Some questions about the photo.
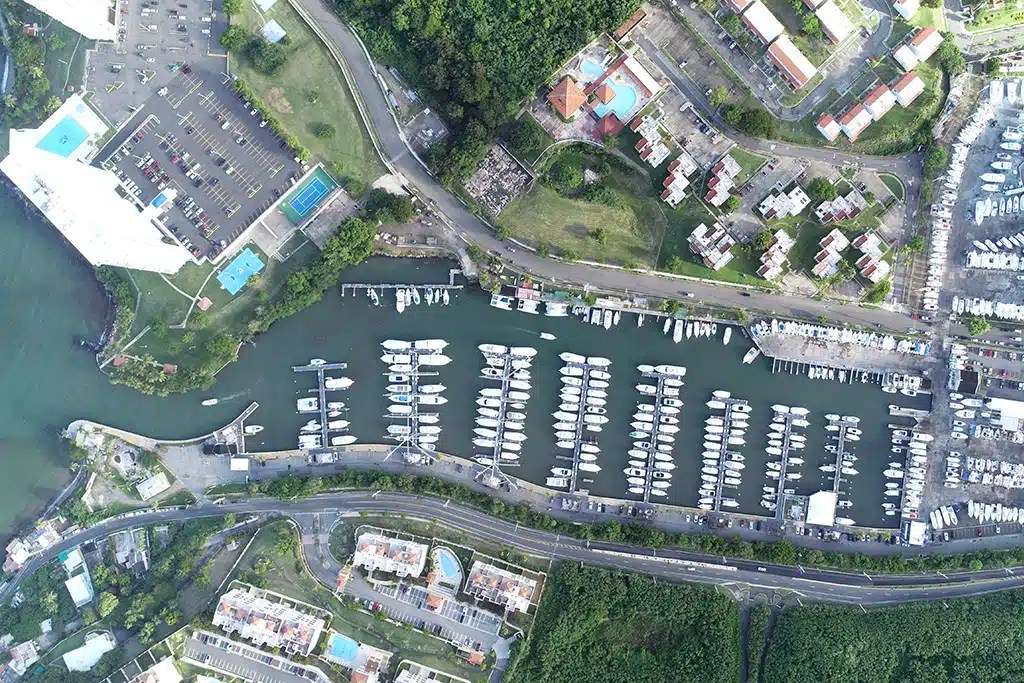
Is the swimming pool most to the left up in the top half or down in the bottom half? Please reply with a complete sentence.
The swimming pool most to the left sits in the top half of the picture.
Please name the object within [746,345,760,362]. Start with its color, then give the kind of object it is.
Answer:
white boat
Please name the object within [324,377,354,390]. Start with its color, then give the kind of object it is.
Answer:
white boat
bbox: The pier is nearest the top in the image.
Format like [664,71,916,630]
[342,269,463,296]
